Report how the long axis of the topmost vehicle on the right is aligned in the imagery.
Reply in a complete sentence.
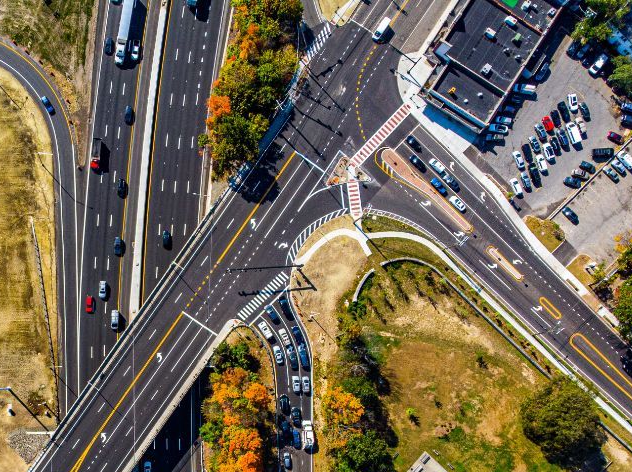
In this picture, the topmost vehicle on the right is oriented at an angle.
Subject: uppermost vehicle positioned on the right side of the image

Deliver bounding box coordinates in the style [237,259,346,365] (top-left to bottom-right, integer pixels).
[374,15,394,38]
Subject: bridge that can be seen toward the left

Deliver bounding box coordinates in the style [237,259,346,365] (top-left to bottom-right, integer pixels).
[36,112,277,472]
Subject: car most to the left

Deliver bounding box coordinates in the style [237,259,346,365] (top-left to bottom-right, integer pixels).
[41,96,54,113]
